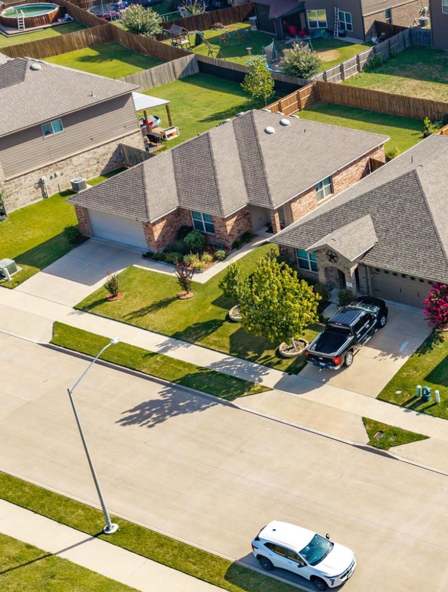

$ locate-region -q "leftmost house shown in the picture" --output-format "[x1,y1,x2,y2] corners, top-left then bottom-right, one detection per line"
[0,44,145,213]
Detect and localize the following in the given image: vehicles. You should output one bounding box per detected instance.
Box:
[251,520,355,591]
[304,297,394,369]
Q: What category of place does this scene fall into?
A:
residential area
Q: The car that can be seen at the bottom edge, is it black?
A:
No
